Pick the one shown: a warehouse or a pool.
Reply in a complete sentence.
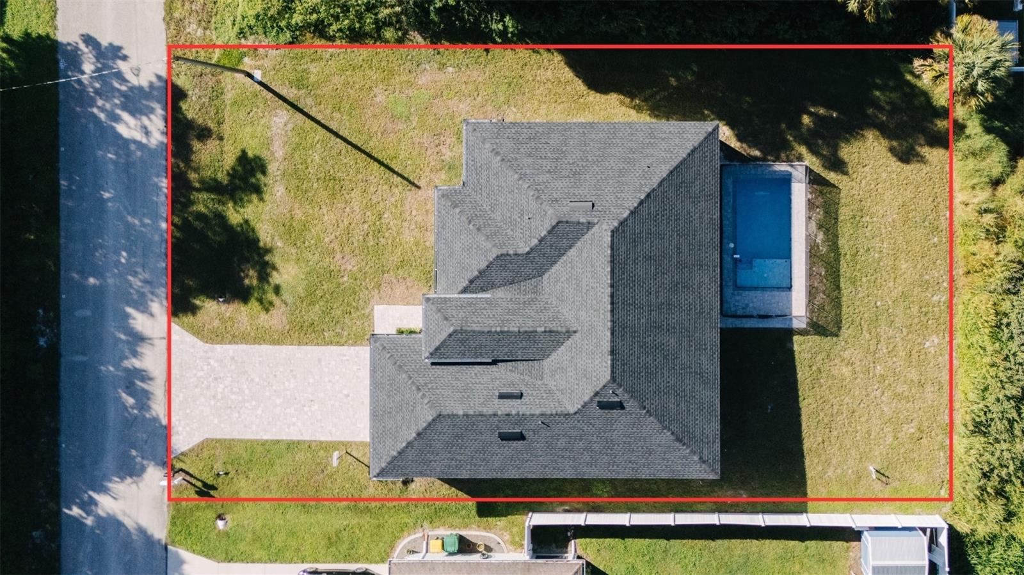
Visible in the photo is a pool.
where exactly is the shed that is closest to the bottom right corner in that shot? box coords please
[860,528,928,575]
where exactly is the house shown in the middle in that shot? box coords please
[368,118,721,481]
